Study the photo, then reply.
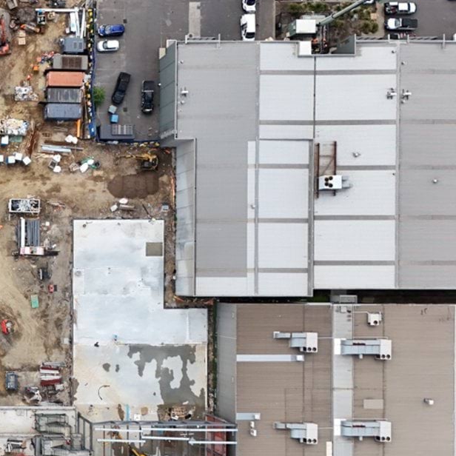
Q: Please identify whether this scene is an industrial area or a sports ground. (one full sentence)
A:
The area seen from above is an industrial area.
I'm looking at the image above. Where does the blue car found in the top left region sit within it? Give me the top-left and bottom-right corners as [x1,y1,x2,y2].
[99,23,124,37]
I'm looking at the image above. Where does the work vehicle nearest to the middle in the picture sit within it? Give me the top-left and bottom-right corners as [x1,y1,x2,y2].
[113,153,162,171]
